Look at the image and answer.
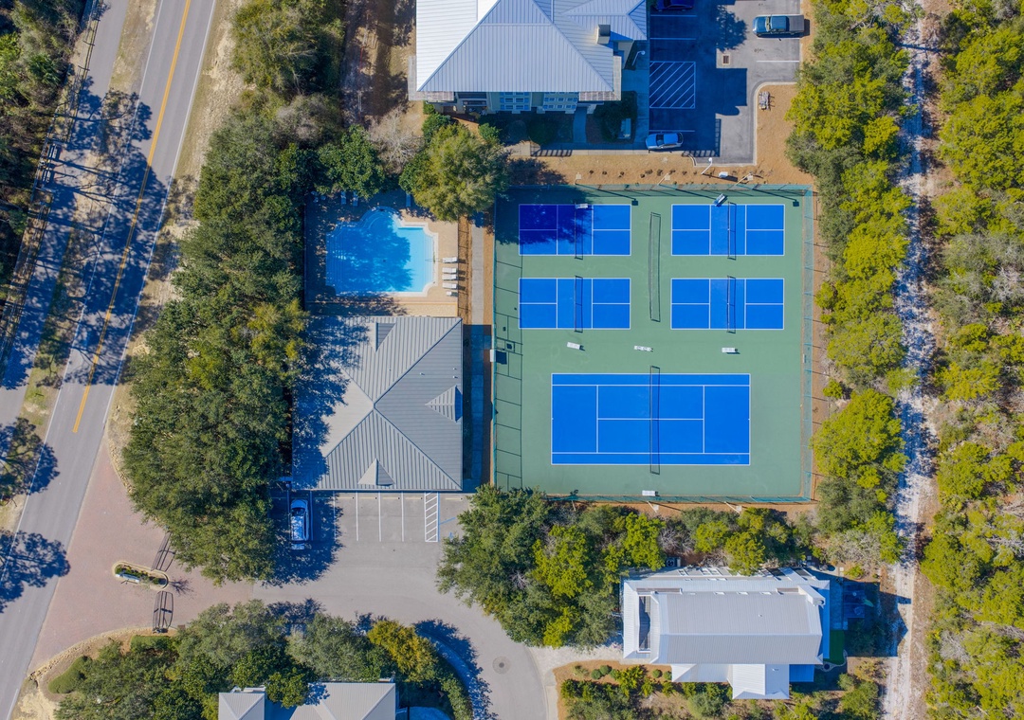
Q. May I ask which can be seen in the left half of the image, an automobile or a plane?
automobile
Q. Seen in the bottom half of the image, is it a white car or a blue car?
blue car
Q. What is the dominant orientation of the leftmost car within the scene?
from top to bottom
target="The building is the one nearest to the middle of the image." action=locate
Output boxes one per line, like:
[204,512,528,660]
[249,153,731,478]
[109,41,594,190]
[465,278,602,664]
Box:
[279,316,463,492]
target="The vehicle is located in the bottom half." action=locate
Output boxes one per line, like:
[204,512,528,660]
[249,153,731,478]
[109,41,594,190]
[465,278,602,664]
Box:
[287,500,307,547]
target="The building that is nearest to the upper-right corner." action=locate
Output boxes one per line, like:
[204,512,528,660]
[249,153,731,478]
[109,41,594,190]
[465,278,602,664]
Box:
[408,0,648,114]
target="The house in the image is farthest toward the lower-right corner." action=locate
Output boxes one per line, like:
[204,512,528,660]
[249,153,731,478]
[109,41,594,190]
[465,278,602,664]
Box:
[621,572,830,700]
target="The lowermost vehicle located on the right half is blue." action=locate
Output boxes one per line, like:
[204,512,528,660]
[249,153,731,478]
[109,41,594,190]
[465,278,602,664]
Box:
[646,130,684,149]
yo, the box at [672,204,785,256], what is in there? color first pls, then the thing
blue sports court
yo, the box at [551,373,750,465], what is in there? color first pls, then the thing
blue tennis court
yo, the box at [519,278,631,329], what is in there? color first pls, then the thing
blue sports court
